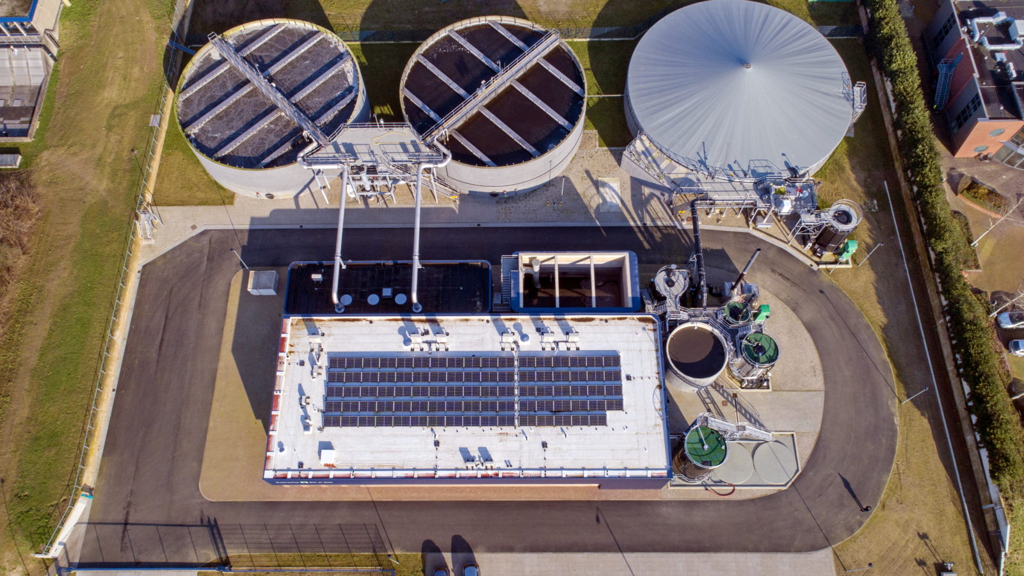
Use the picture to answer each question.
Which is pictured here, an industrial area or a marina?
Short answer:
industrial area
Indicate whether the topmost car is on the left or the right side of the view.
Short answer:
right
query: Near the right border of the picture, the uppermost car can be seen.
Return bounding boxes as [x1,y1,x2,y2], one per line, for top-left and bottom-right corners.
[997,310,1024,330]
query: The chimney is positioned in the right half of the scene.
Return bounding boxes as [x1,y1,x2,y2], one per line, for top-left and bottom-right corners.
[730,245,770,310]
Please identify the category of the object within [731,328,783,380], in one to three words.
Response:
storage tank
